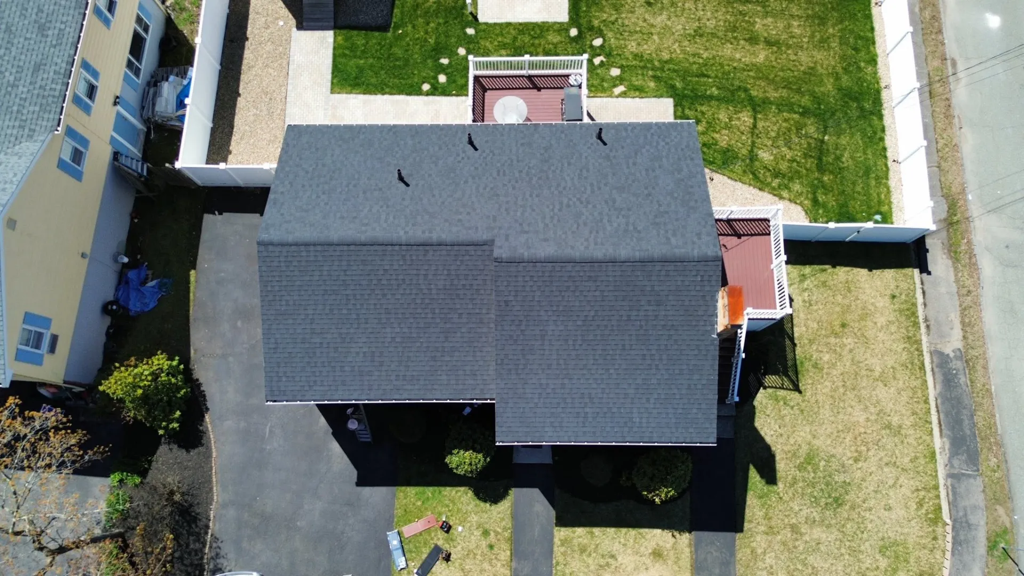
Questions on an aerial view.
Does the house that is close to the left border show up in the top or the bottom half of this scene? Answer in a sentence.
The house that is close to the left border is in the top half of the image.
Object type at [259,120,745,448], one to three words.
house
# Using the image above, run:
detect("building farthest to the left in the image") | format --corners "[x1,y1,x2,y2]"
[0,0,167,393]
